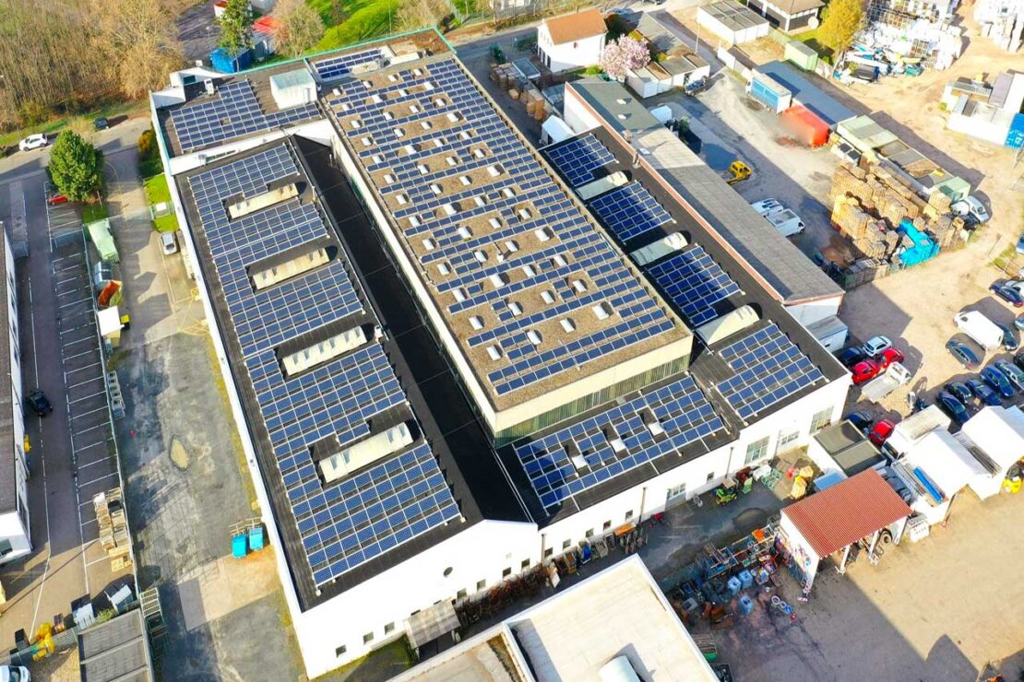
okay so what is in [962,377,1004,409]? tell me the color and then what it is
blue car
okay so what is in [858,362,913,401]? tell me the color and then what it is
white truck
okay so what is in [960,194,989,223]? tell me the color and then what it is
white van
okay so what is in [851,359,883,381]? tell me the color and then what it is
red car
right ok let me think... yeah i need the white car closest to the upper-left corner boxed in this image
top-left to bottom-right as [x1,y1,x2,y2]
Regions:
[18,132,49,152]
